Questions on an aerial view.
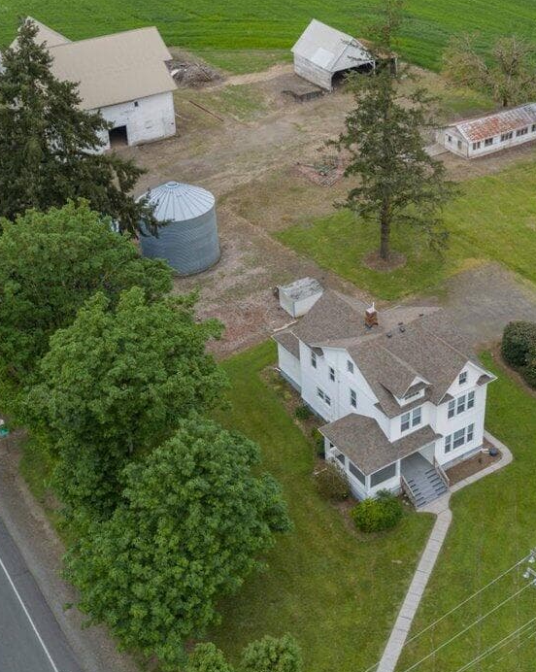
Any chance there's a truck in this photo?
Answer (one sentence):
No, there appears to be no truck in this shot.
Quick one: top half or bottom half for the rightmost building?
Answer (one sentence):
You can find the rightmost building in the top half.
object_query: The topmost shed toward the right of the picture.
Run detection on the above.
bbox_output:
[291,22,402,90]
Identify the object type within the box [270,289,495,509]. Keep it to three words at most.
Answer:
house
